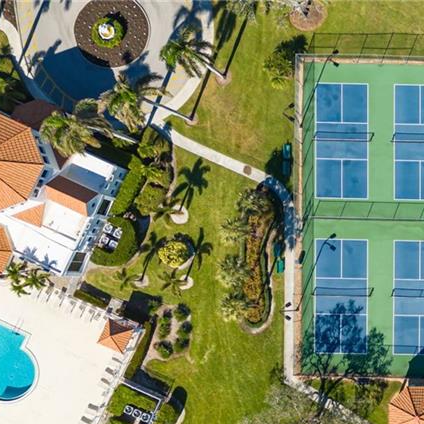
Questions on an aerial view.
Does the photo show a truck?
No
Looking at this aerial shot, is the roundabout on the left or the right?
left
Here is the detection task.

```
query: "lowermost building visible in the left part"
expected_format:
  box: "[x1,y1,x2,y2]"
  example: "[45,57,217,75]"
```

[97,317,144,354]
